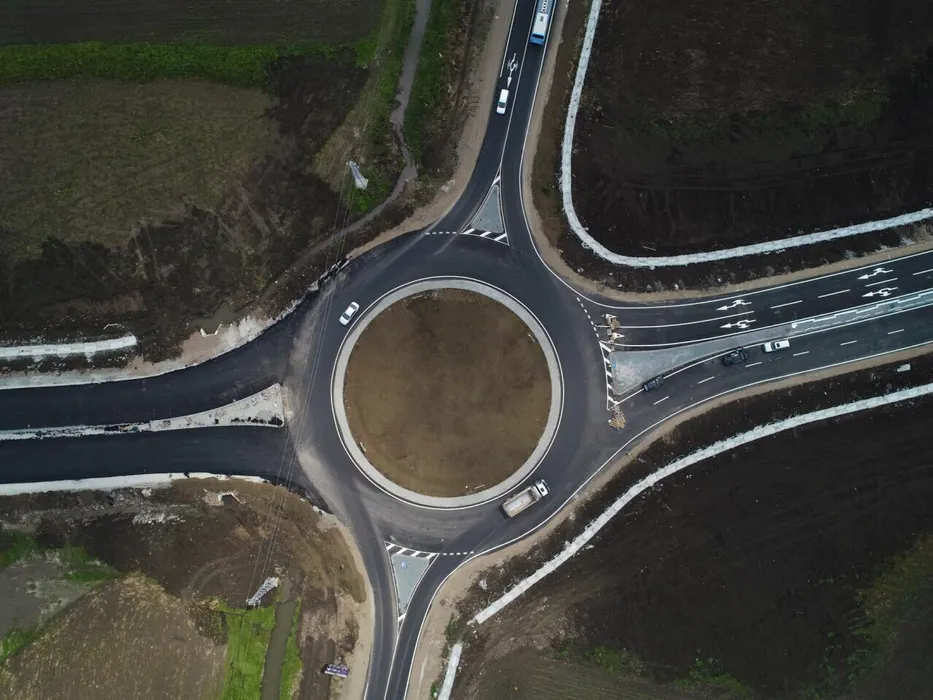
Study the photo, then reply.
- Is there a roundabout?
Yes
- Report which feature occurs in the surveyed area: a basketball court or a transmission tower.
transmission tower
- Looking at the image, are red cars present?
No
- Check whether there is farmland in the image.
Yes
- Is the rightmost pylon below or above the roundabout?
above it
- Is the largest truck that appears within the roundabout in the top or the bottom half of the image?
bottom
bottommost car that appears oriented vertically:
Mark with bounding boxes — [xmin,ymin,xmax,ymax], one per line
[495,89,508,115]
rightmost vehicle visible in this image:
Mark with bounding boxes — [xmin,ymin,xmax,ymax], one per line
[761,339,788,354]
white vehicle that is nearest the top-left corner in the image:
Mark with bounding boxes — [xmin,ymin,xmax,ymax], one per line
[339,301,360,326]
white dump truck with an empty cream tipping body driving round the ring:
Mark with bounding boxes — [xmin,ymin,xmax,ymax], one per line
[501,479,551,517]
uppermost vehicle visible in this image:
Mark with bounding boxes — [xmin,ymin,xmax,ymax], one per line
[531,0,555,46]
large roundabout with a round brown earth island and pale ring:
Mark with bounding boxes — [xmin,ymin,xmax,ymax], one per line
[285,232,610,558]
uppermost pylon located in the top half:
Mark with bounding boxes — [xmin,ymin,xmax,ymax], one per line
[345,162,370,191]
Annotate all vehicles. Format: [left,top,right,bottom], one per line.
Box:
[495,89,508,115]
[531,0,555,46]
[761,339,788,354]
[339,301,360,326]
[501,479,551,517]
[641,374,665,392]
[722,348,749,365]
